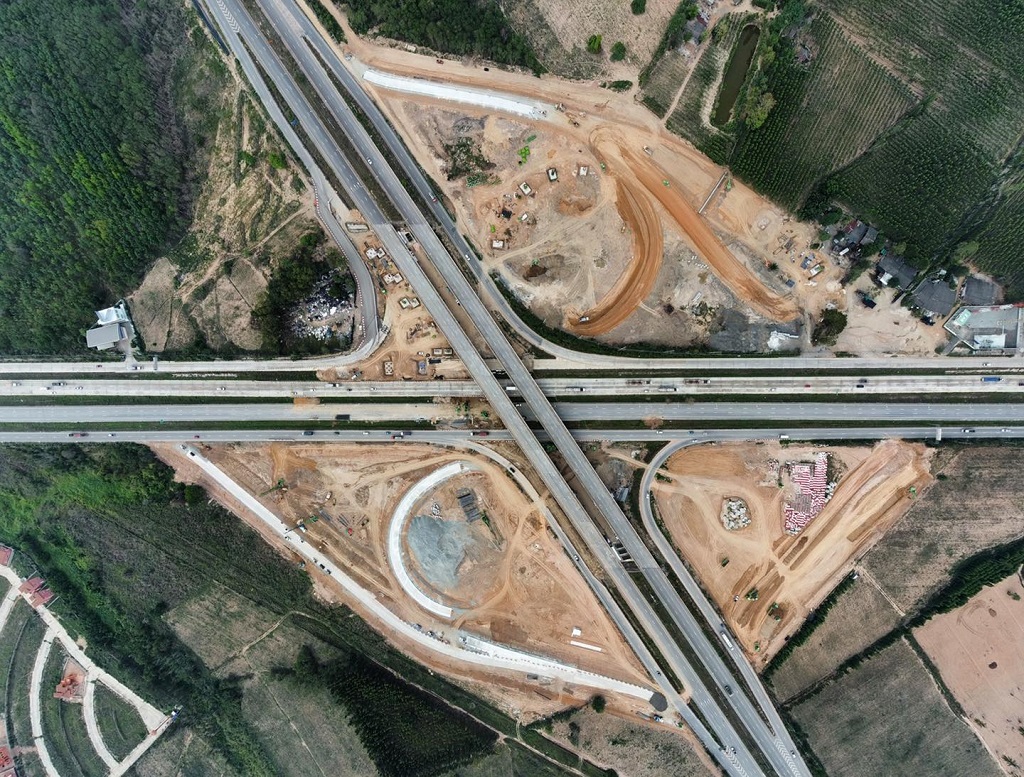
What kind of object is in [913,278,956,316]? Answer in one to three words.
house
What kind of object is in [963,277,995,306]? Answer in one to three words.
house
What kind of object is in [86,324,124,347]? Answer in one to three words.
building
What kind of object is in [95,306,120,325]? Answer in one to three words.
building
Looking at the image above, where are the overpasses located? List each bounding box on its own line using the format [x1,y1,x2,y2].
[365,216,620,573]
